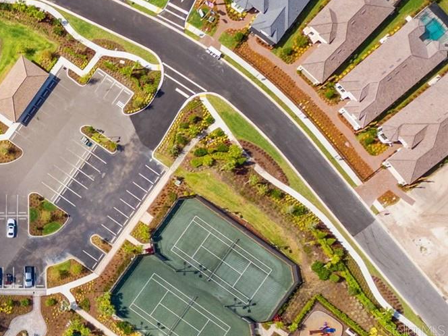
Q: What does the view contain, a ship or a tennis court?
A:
tennis court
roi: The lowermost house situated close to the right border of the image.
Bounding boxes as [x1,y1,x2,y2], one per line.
[377,74,448,185]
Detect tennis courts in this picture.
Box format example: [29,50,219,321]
[153,196,301,321]
[113,254,255,336]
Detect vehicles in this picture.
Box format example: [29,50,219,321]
[203,45,220,58]
[6,272,13,285]
[79,136,92,147]
[25,265,34,286]
[6,218,16,238]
